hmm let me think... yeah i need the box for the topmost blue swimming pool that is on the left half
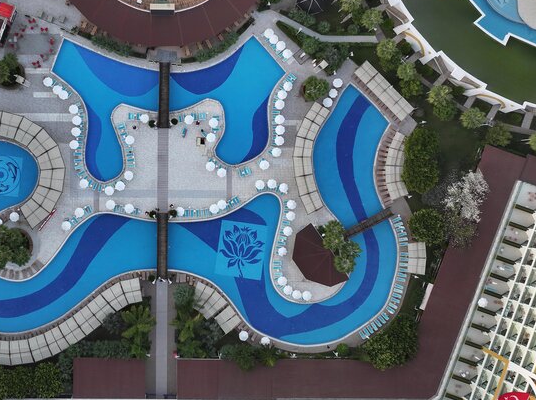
[51,34,287,183]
